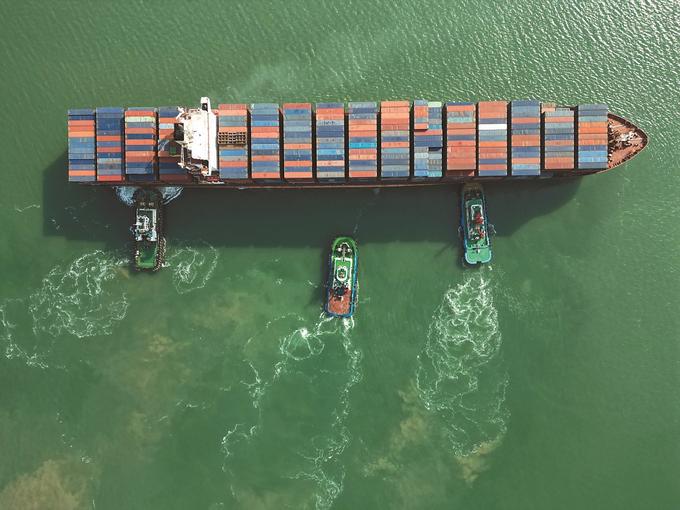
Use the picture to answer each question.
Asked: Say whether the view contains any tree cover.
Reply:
No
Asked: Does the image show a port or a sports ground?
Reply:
port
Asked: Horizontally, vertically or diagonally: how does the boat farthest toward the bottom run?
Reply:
vertically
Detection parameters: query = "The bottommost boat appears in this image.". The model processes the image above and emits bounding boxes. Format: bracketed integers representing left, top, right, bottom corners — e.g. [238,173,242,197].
[325,235,359,319]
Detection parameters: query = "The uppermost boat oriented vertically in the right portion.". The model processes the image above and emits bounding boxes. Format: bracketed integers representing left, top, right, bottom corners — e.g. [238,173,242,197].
[460,184,491,266]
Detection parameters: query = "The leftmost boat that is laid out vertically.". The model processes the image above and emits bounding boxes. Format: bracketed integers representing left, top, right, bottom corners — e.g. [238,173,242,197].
[132,188,165,271]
